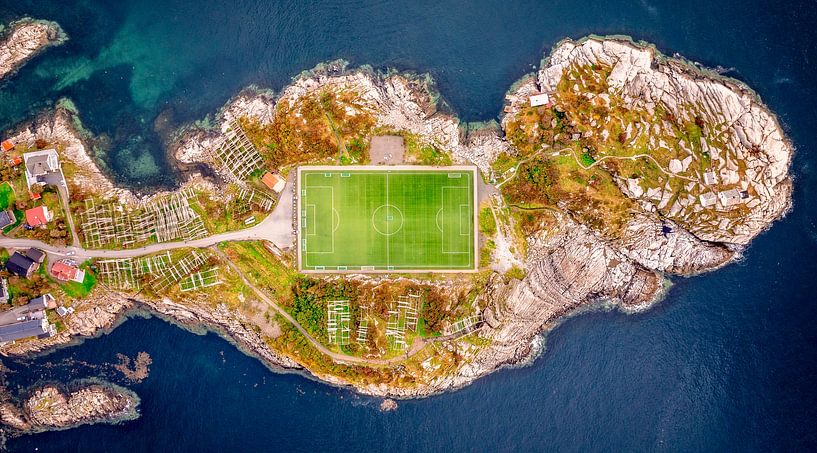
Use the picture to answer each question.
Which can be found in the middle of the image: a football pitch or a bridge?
football pitch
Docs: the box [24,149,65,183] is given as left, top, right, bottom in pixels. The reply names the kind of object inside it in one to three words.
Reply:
house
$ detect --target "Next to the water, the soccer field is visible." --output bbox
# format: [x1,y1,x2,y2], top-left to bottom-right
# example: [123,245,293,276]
[298,167,478,272]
